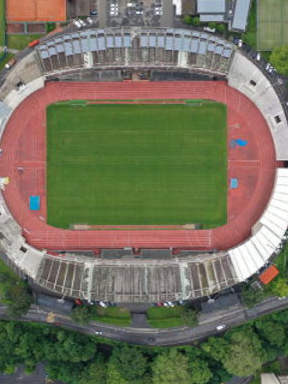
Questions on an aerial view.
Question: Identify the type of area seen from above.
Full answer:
This looks like a sports ground.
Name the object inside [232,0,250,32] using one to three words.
building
